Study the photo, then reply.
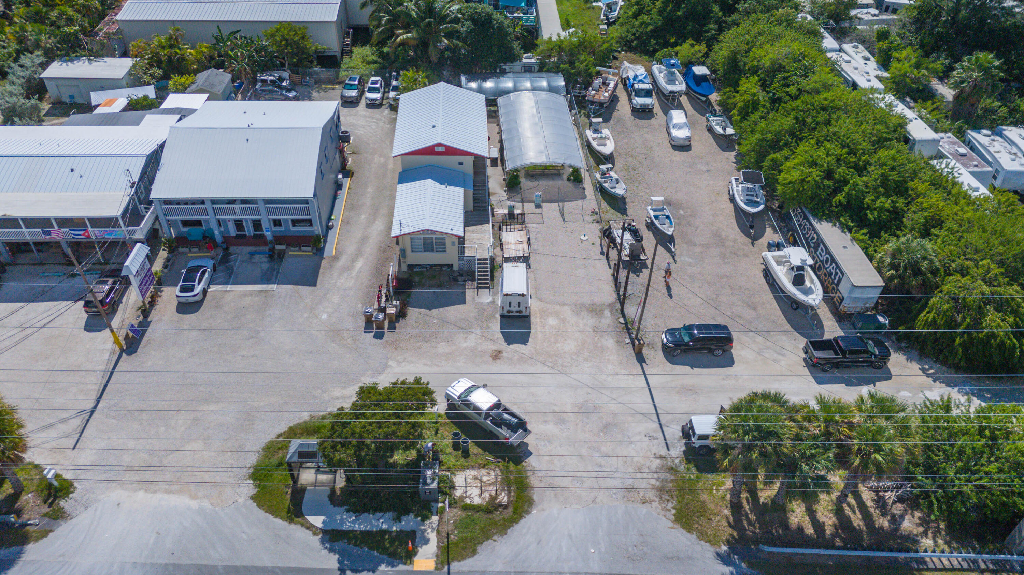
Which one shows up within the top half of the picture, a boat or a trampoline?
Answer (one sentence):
Looking within the top half of the picture, you will find a boat.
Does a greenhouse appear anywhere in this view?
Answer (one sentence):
Yes, you can see a greenhouse in this photo.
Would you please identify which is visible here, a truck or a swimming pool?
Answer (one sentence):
It is a truck that can be seen here.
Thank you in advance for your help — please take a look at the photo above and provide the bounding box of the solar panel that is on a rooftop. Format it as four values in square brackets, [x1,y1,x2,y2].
[295,447,323,463]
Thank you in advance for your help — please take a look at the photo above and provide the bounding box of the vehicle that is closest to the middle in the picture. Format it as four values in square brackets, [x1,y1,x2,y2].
[497,269,534,318]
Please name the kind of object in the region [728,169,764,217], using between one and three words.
boat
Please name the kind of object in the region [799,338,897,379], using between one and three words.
truck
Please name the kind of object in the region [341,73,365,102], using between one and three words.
car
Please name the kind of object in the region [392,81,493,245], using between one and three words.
house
